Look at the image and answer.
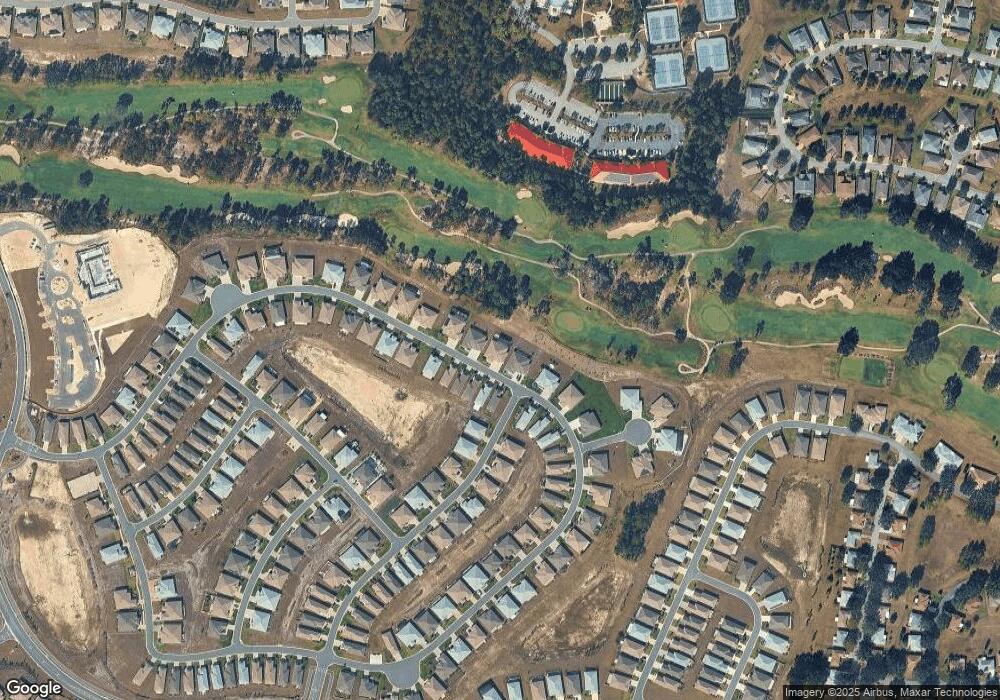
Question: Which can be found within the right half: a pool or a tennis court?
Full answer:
Looking within the right half, you will find a tennis court.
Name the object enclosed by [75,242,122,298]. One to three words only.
building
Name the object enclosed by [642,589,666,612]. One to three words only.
house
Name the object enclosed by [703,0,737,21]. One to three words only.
tennis court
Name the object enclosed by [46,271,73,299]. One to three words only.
roundabout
